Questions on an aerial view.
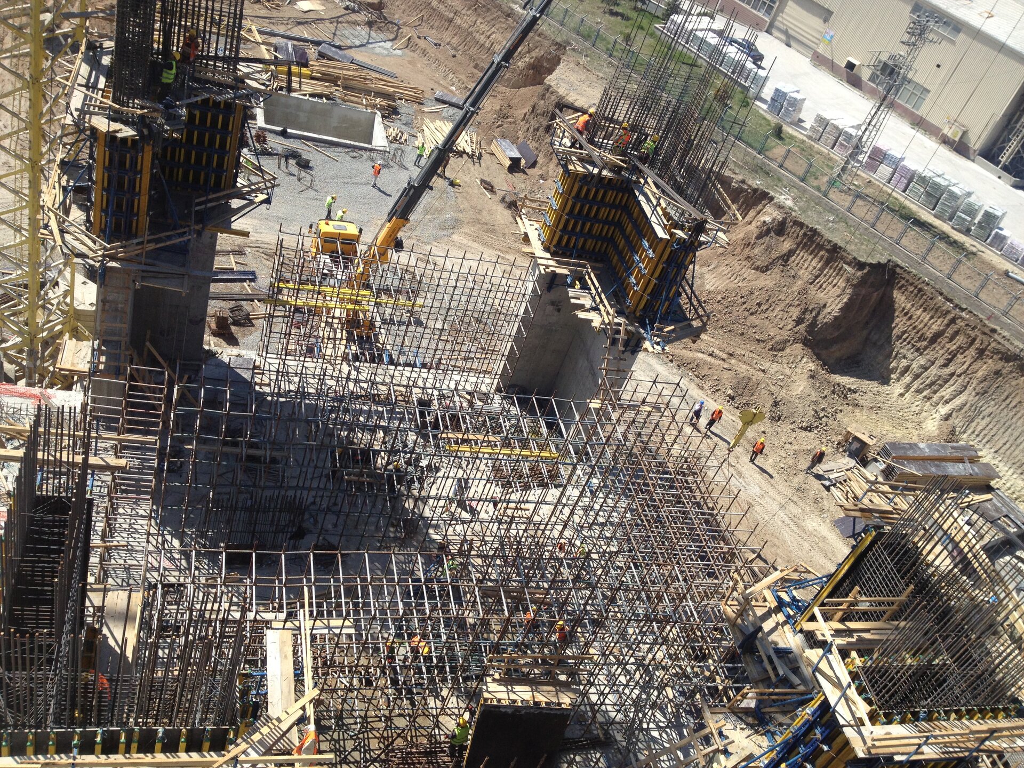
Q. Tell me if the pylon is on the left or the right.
right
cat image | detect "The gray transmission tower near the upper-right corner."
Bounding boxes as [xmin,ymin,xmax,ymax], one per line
[824,0,955,183]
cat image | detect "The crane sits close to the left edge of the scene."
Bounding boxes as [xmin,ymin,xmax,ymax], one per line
[0,0,91,372]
